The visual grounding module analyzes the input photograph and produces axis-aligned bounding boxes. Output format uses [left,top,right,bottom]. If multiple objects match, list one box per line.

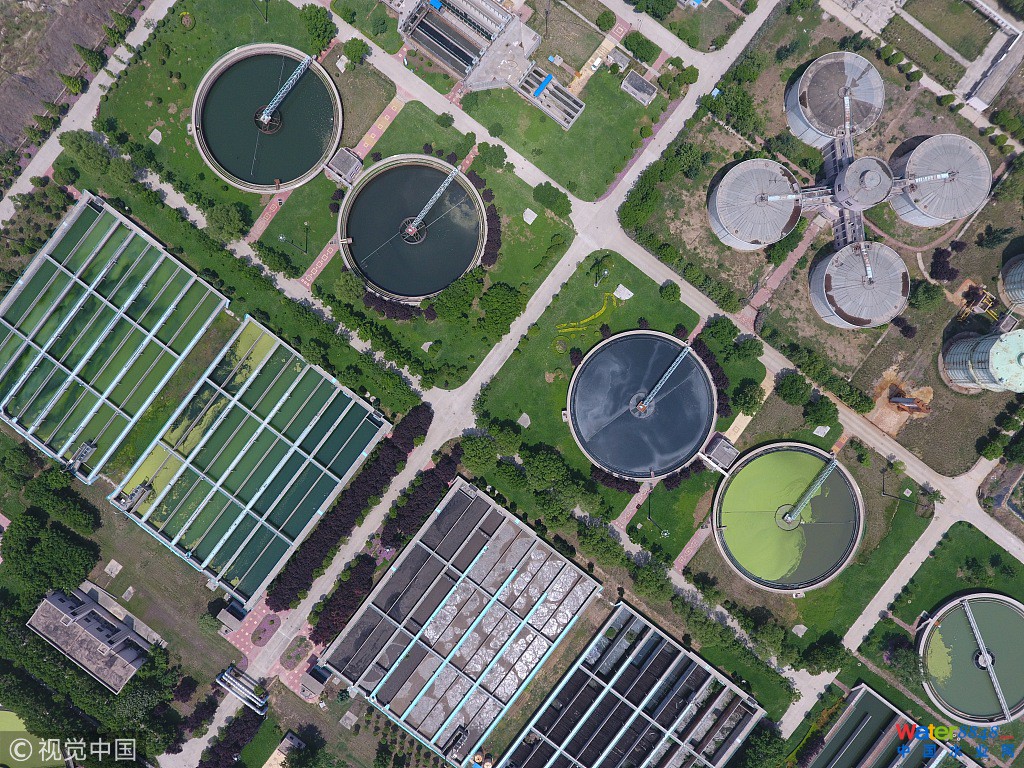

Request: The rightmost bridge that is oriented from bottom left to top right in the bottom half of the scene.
[777,454,839,522]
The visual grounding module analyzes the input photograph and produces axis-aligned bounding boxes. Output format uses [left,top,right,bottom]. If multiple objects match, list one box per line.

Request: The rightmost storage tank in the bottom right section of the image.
[911,590,1024,728]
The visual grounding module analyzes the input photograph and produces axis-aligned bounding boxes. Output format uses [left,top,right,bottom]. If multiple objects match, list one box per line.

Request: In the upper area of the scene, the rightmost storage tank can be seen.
[886,134,991,230]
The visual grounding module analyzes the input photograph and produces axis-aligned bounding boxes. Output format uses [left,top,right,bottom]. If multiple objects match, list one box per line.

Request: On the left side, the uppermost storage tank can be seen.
[193,43,345,195]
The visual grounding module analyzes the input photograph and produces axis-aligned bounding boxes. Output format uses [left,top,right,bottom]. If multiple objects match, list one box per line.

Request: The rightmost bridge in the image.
[958,598,1012,723]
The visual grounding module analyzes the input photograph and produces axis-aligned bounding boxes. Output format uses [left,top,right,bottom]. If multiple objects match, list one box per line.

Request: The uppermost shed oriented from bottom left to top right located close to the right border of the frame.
[966,33,1024,106]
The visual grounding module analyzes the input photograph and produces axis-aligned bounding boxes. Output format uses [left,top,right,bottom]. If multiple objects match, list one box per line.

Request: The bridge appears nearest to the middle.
[634,343,693,412]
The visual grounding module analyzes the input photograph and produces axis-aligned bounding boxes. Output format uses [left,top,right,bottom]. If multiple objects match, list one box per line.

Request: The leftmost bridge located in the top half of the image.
[262,54,314,128]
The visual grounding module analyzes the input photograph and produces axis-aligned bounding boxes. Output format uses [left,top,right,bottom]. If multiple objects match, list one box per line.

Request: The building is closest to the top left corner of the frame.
[330,148,364,183]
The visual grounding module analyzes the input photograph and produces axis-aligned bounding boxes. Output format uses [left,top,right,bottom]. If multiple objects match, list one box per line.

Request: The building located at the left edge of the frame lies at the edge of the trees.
[24,576,169,695]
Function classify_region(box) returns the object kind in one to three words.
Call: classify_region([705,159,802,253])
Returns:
storage tank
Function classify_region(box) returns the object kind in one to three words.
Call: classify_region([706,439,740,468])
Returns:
building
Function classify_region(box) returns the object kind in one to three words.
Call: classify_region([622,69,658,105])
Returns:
building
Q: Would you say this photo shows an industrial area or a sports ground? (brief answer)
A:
industrial area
